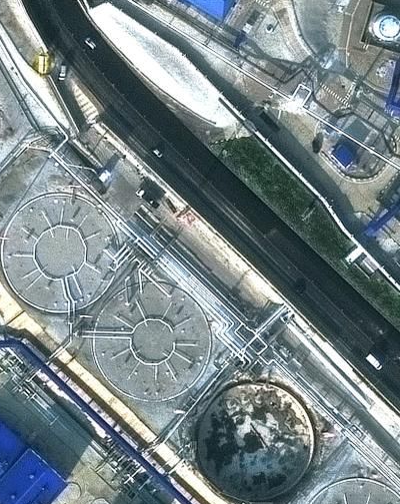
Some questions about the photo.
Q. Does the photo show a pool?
No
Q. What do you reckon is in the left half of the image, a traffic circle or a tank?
tank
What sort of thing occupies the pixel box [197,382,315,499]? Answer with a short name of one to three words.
storage tank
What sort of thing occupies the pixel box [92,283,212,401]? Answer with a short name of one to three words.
storage tank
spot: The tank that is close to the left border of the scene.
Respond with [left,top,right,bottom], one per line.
[1,193,120,314]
